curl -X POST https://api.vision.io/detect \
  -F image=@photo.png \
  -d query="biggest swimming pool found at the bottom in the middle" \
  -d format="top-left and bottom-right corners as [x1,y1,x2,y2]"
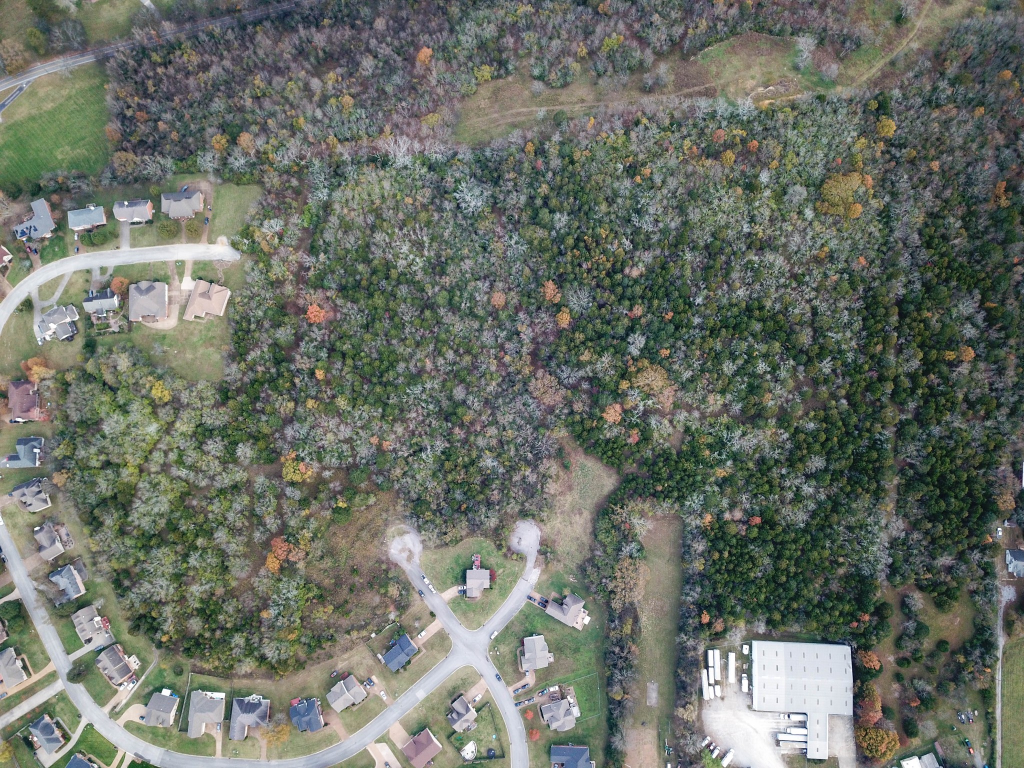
[460,740,477,760]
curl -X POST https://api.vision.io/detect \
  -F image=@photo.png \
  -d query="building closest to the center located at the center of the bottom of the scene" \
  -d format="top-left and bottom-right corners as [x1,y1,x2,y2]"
[466,554,490,597]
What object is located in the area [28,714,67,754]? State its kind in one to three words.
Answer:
house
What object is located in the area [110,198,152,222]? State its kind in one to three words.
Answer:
house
